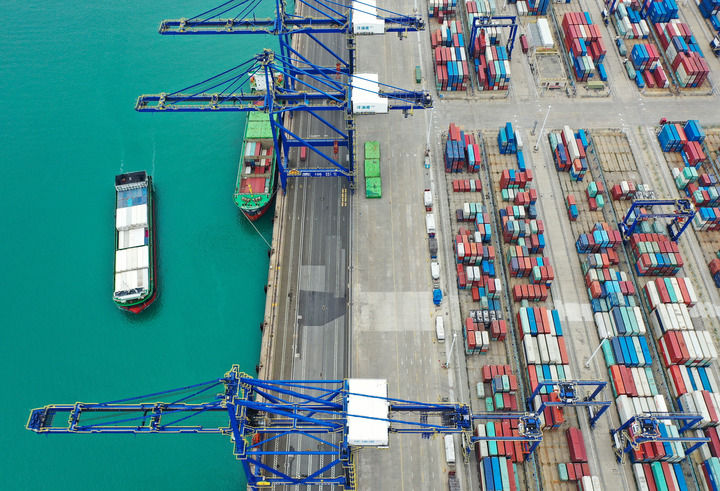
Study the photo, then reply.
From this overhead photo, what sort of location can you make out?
port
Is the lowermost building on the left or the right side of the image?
right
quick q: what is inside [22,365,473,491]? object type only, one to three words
container crane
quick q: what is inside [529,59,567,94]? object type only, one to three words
building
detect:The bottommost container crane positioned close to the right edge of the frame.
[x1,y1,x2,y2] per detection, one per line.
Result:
[612,410,719,468]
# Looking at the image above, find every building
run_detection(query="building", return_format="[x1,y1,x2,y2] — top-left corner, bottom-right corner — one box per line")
[532,23,553,55]
[529,59,567,94]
